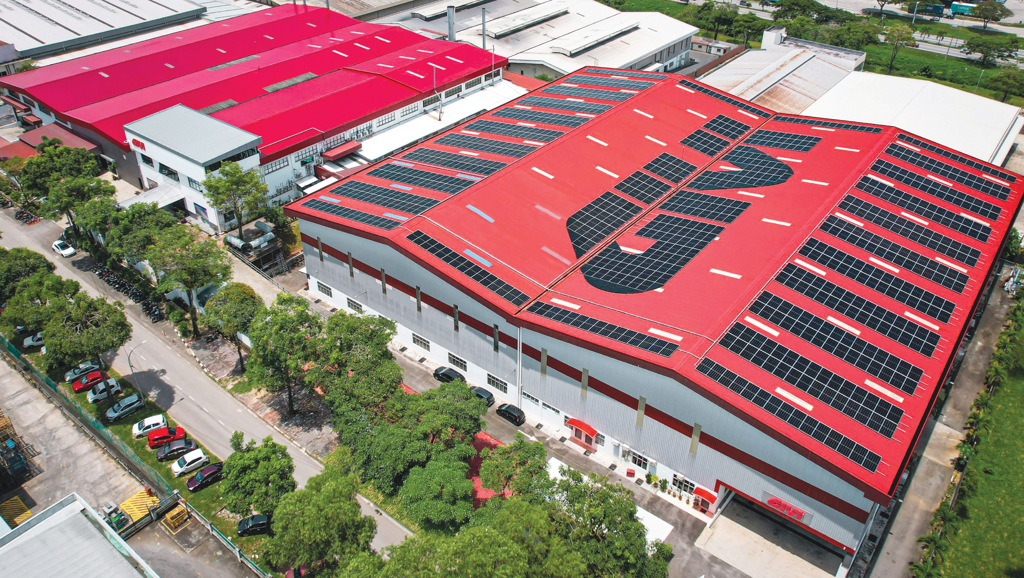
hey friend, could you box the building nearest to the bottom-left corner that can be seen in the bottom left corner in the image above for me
[0,492,155,578]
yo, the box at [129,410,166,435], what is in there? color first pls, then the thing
white car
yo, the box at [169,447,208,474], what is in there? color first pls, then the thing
white car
